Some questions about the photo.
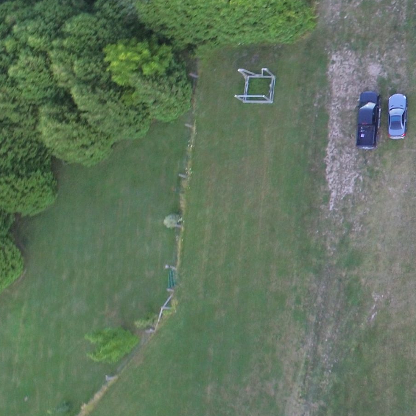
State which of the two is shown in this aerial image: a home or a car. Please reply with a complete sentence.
I can see a car in this picture.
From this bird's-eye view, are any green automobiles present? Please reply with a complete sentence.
No, there isn't any green automobile down there.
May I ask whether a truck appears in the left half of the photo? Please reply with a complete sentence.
No, I can find no truck in the left half of the photo.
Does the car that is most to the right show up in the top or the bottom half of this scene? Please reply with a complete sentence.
The top half of the photo is where the car that is most to the right is.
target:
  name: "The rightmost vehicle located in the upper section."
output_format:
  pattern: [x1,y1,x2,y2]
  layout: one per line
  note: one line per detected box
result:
[385,94,409,139]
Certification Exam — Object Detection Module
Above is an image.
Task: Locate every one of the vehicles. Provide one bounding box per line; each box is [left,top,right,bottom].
[355,92,383,152]
[385,94,409,139]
